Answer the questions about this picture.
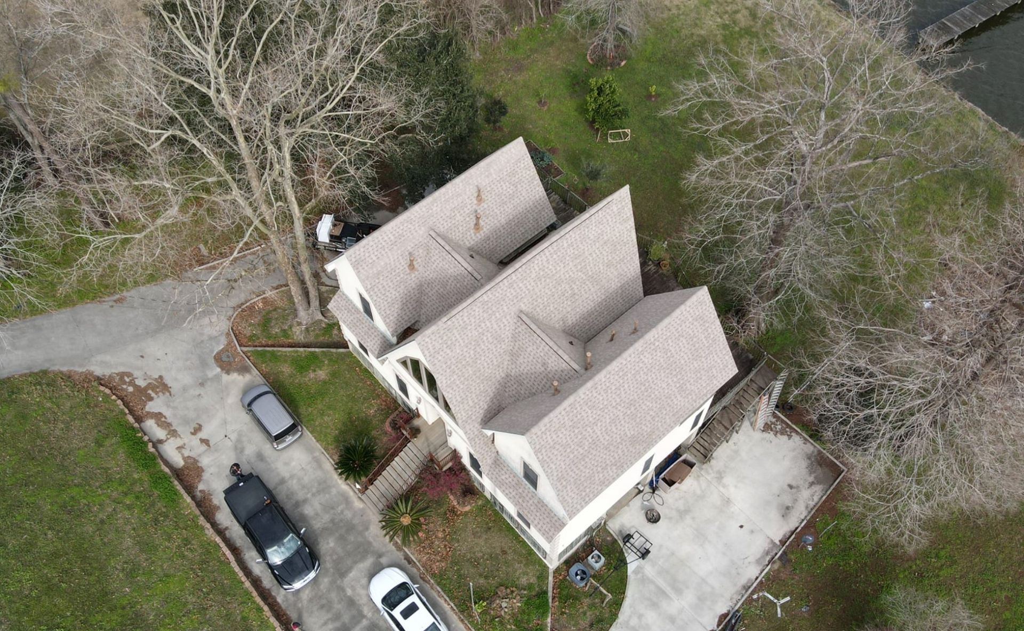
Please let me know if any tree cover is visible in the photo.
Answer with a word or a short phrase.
Yes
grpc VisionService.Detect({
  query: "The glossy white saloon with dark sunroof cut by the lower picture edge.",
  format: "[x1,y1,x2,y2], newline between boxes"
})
[370,566,453,631]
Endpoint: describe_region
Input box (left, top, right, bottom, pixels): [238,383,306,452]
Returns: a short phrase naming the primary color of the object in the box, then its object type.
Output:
gray car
